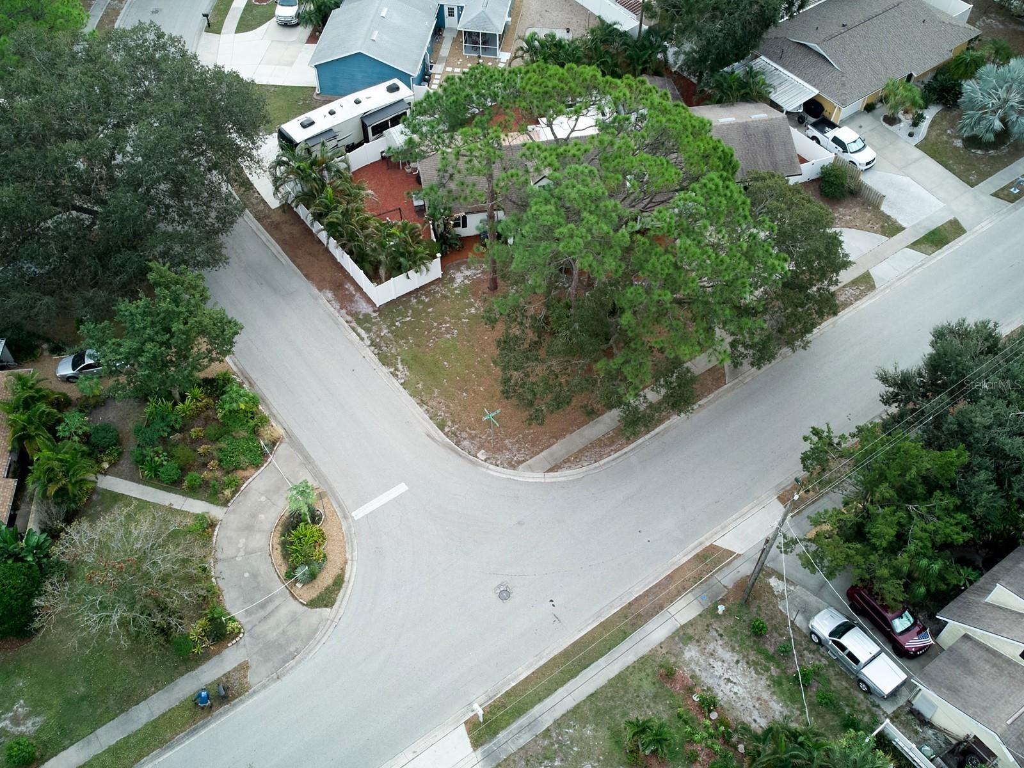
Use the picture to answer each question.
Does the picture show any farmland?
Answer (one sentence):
No, no farmland is visible.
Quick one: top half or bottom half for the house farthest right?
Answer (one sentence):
The house farthest right is in the bottom half of the image.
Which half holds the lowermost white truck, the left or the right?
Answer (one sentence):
The lowermost white truck sits on the right side.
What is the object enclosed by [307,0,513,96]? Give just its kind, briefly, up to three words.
house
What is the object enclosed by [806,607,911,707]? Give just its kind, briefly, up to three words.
truck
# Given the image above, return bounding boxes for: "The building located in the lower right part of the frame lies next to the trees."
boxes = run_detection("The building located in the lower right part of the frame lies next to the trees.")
[908,548,1024,768]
